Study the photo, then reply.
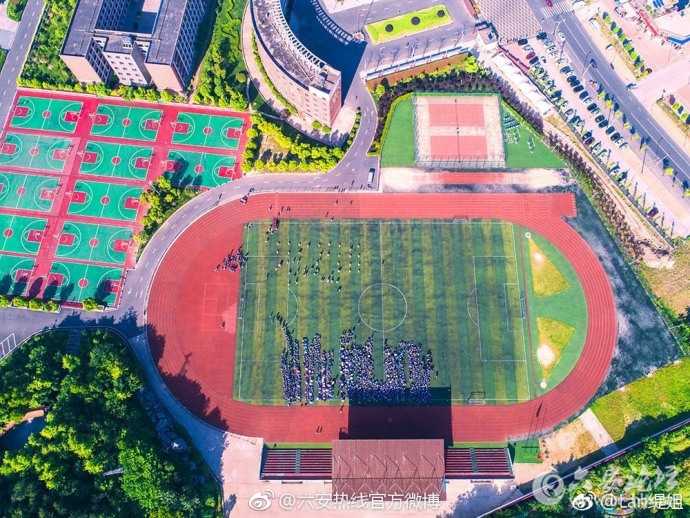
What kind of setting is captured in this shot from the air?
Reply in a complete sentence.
What you see here is a sports ground.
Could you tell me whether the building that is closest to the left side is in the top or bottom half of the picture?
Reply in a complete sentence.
Seen from above, the building that is closest to the left side lies in the top half of the view.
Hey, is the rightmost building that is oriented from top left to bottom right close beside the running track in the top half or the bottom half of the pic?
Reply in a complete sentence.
The top half of the photo is where the rightmost building that is oriented from top left to bottom right close beside the running track is.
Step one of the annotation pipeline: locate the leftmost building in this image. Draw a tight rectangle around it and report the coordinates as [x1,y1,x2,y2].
[59,0,206,90]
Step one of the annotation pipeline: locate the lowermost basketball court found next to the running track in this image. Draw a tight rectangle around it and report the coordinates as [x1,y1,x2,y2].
[42,263,123,309]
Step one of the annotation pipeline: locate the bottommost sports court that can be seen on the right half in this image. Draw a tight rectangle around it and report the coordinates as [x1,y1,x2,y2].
[431,136,488,160]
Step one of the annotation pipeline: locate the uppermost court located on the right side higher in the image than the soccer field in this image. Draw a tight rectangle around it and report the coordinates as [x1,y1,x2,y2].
[429,104,486,126]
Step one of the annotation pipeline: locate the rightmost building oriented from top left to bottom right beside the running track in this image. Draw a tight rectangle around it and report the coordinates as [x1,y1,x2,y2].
[251,0,341,127]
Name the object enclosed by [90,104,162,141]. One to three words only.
basketball court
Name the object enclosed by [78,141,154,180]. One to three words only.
basketball court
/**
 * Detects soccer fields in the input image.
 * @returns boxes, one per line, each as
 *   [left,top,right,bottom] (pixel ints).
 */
[233,218,535,406]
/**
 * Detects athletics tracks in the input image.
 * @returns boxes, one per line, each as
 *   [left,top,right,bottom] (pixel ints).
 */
[147,193,617,442]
